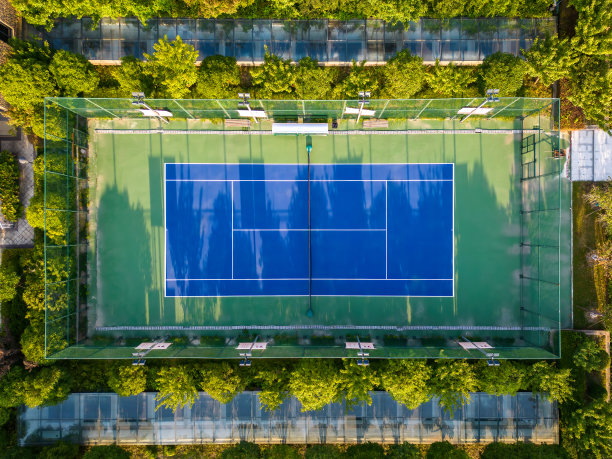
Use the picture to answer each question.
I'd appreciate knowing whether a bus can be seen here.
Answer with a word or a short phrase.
No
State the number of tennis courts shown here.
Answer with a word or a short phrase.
one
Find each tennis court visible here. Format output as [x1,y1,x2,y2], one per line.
[87,117,571,338]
